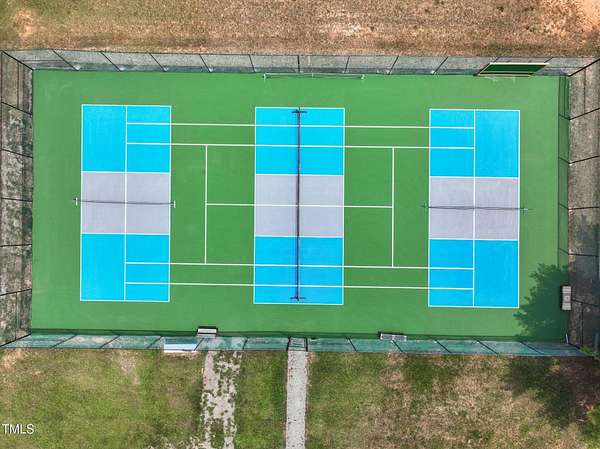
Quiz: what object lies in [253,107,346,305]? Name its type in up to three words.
sports court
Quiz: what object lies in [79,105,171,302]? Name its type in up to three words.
sports court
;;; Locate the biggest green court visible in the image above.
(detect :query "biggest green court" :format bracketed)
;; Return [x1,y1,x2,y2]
[29,67,571,343]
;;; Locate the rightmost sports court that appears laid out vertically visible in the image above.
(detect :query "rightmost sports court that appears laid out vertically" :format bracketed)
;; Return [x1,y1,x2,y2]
[428,108,521,307]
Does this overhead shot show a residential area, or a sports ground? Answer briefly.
sports ground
